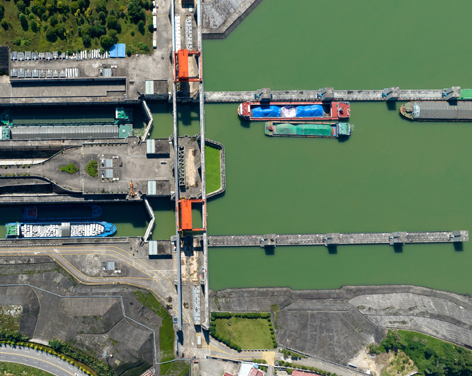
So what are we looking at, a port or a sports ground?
port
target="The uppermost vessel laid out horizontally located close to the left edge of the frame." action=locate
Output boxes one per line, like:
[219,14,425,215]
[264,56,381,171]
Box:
[0,109,132,124]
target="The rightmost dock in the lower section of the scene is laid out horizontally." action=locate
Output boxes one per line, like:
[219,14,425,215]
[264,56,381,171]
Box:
[207,231,472,247]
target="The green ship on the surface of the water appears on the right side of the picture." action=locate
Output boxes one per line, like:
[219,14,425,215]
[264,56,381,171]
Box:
[264,121,352,137]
